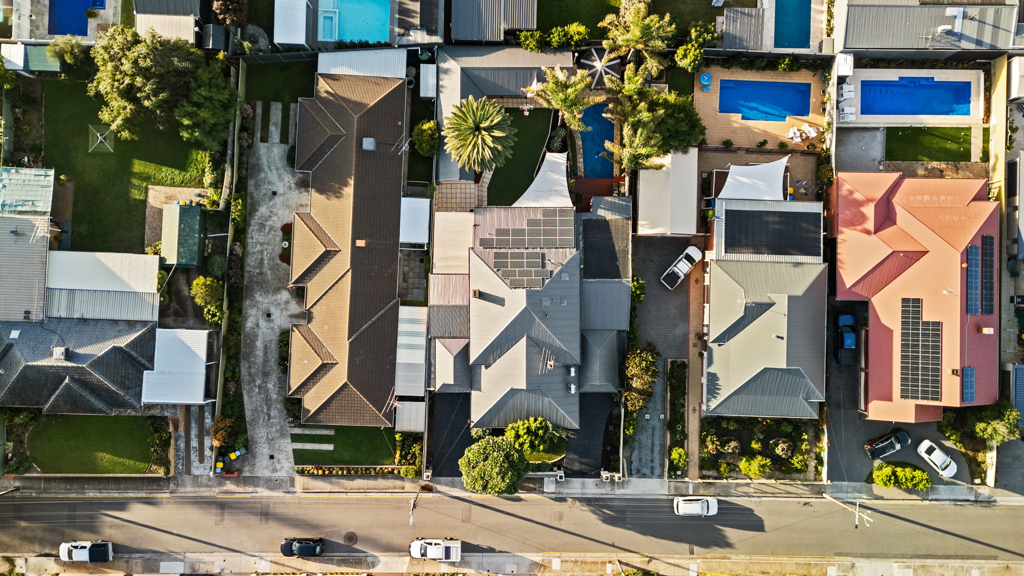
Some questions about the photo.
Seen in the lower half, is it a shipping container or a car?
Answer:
car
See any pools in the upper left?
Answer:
Yes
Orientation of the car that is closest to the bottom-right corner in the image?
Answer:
diagonally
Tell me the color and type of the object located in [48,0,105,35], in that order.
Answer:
blue swimming pool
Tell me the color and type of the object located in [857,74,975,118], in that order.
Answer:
blue swimming pool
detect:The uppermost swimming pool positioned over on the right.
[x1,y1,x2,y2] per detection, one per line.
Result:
[771,0,814,52]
